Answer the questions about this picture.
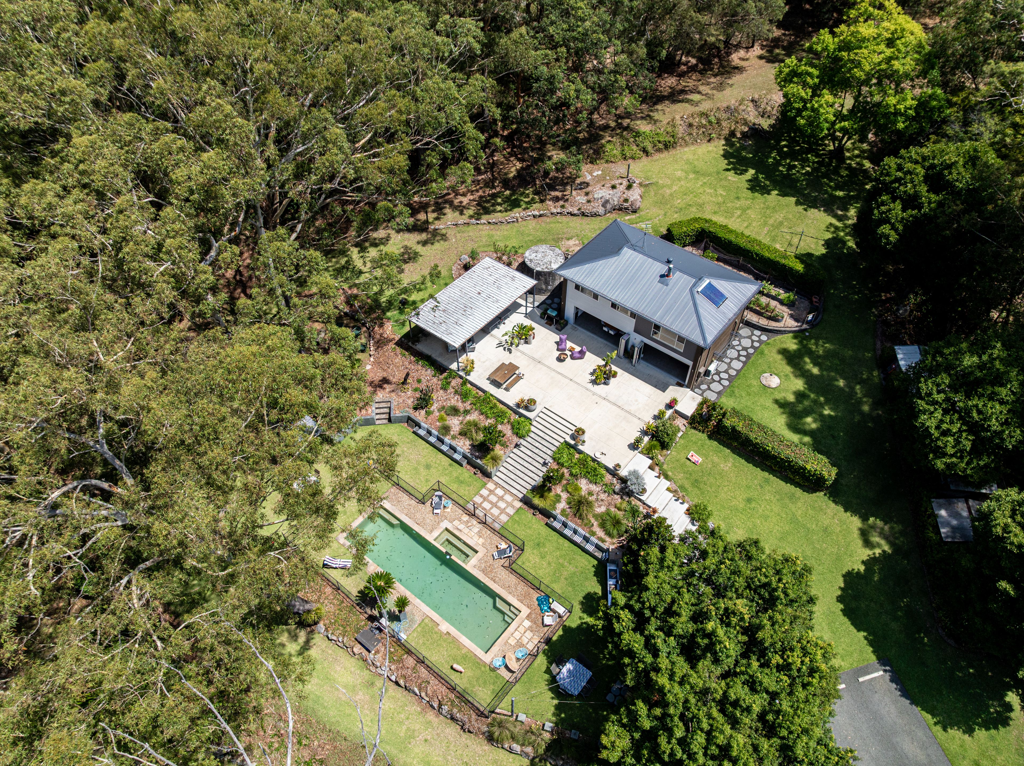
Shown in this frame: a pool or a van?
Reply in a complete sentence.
This aerial view contains a pool.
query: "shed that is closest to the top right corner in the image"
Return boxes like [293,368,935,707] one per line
[886,345,931,388]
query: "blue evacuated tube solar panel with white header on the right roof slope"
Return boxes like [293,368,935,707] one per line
[693,276,729,308]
